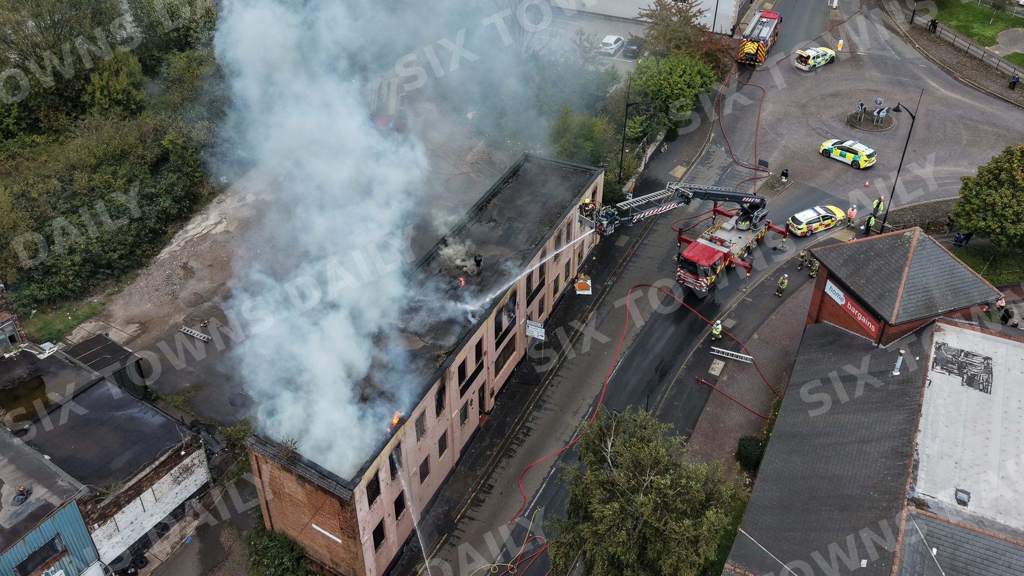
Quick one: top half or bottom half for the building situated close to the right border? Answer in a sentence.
The building situated close to the right border sits in the bottom half of the picture.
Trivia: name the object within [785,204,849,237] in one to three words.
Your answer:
car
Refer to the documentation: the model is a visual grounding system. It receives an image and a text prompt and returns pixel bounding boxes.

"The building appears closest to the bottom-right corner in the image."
[713,222,1024,576]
